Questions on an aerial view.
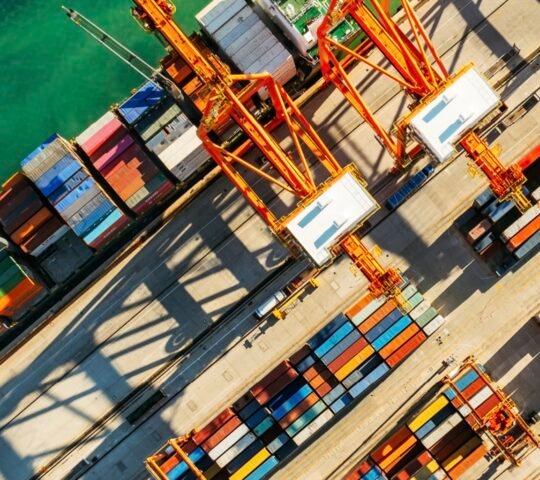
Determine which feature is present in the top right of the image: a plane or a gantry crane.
gantry crane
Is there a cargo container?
Yes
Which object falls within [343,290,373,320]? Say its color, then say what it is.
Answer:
orange shipping container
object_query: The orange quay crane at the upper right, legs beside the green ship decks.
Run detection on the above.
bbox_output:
[310,0,540,220]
